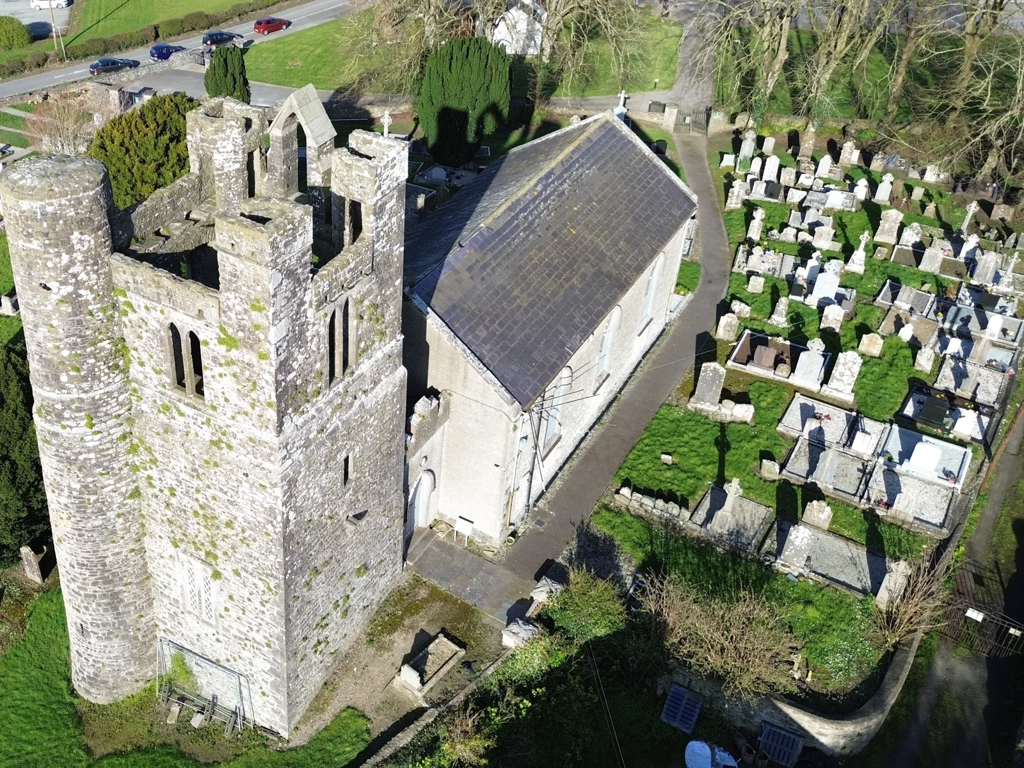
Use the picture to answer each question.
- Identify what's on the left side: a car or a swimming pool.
car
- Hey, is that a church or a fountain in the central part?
church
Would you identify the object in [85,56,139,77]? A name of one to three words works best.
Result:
car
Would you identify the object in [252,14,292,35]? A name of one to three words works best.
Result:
car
